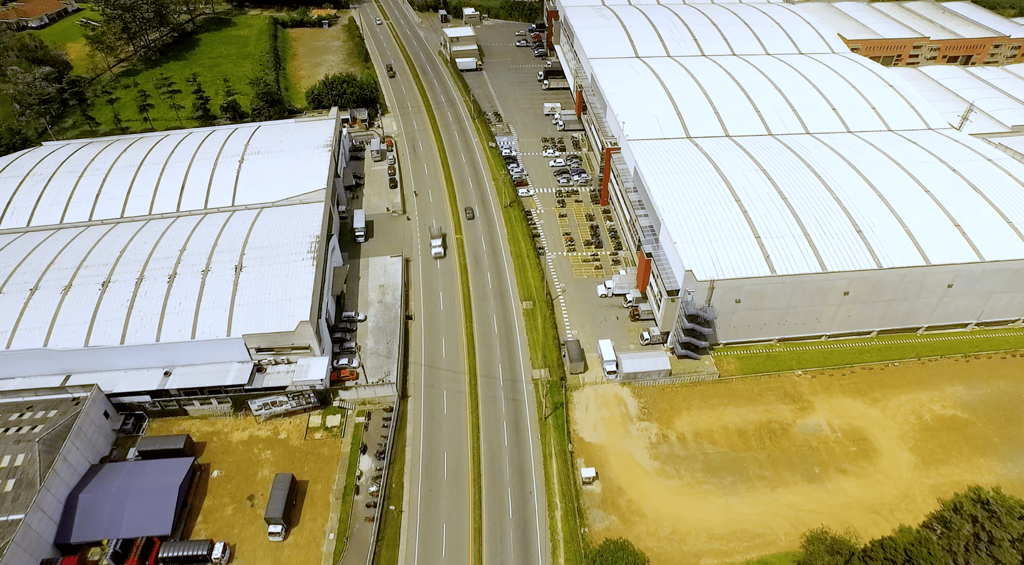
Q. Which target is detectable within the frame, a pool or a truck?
truck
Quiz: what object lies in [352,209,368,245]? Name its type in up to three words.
vehicle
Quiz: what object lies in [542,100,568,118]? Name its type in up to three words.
vehicle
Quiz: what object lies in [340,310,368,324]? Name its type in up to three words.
car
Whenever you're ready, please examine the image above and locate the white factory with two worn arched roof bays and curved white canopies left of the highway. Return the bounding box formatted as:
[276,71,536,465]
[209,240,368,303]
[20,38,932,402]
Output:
[0,104,359,414]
